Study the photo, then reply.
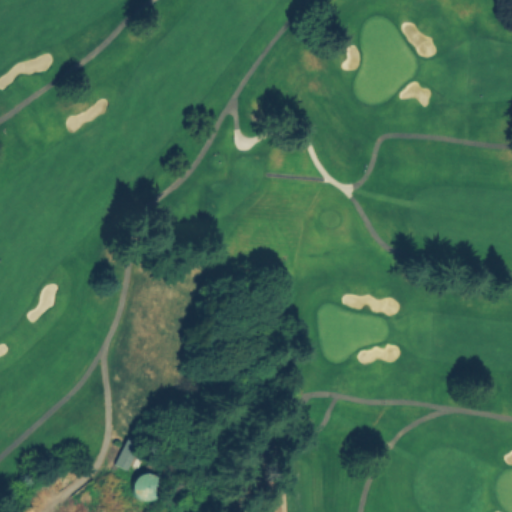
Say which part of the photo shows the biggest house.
bottom left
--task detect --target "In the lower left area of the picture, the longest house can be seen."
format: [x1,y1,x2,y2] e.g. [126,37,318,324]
[115,442,136,472]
